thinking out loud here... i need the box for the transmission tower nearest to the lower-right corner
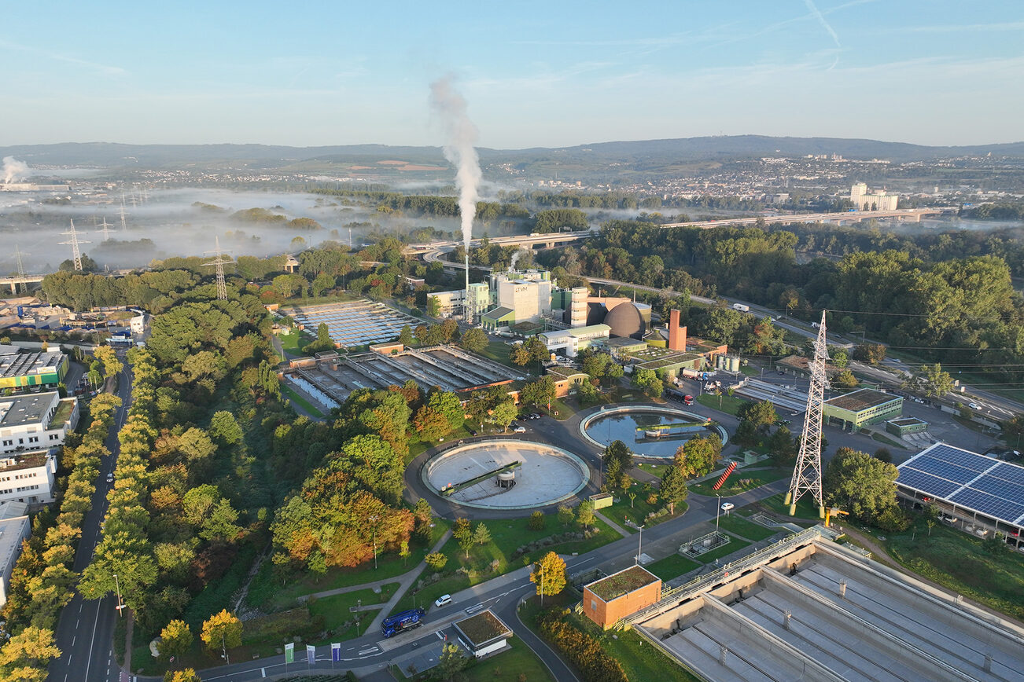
[786,311,843,518]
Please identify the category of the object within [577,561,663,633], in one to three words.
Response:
building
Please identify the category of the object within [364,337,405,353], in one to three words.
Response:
house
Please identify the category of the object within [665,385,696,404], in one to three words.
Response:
vehicle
